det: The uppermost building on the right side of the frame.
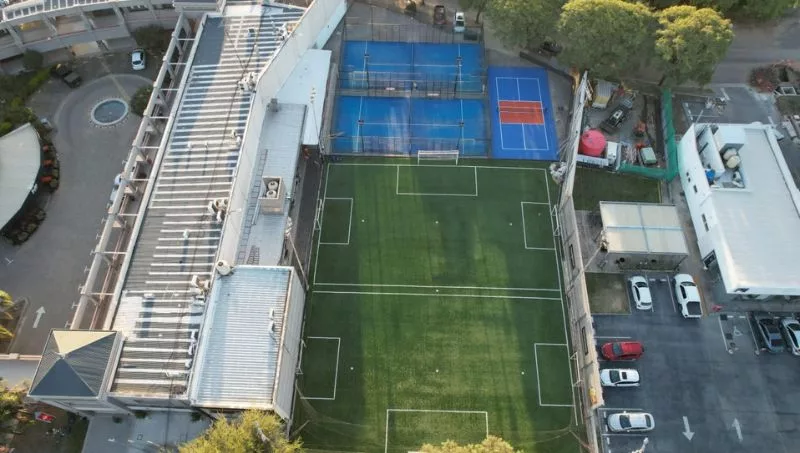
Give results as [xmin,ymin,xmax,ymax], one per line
[588,82,611,119]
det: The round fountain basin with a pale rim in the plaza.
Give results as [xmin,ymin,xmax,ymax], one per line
[85,95,134,130]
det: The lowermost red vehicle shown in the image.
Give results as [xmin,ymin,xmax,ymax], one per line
[601,338,646,362]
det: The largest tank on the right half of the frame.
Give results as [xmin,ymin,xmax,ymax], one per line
[578,134,609,160]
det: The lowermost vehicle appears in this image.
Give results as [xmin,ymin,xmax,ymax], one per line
[605,409,656,434]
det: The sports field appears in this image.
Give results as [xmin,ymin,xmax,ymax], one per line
[290,155,588,453]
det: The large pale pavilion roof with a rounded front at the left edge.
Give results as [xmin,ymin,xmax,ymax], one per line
[0,126,52,252]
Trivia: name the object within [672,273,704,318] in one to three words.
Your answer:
truck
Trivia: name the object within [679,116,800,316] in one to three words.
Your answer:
building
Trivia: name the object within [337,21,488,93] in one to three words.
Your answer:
sports court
